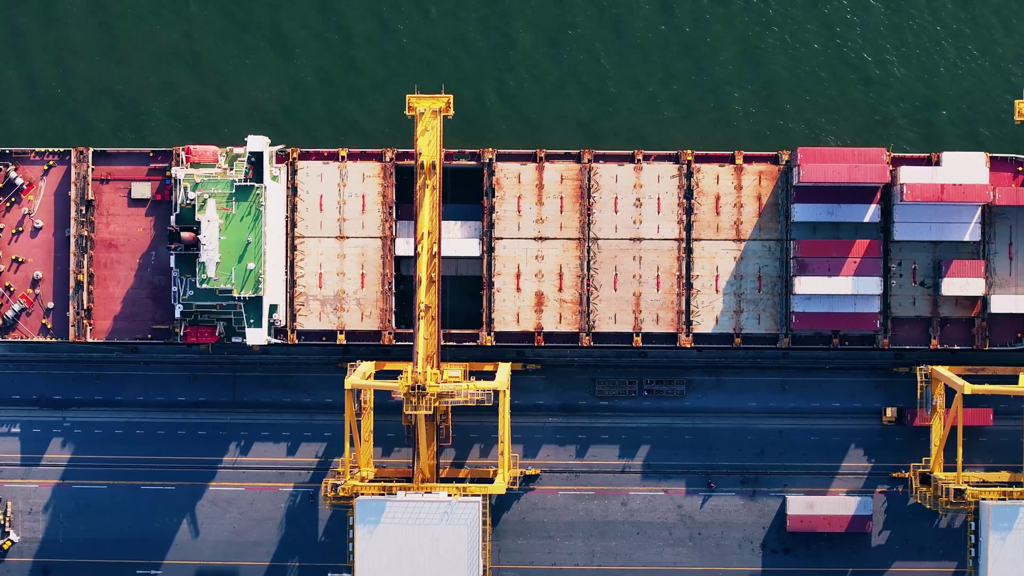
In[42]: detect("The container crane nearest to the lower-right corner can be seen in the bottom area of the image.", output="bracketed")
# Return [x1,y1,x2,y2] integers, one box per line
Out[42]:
[891,366,1024,576]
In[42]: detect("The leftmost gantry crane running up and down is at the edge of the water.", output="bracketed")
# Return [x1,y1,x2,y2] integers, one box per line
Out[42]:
[322,84,541,576]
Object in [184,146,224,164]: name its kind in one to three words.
boat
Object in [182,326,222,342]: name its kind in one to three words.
boat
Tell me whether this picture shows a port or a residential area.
port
